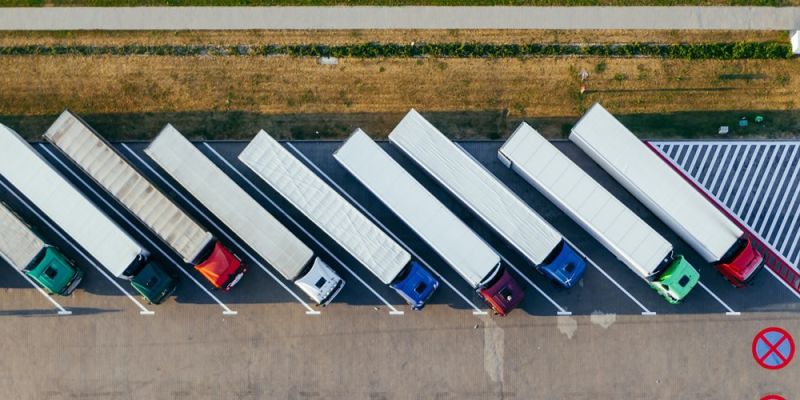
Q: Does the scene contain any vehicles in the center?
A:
Yes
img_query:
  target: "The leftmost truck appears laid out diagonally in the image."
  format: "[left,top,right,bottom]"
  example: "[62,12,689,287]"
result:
[0,189,88,296]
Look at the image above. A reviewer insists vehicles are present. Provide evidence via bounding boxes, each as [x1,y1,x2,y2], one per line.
[240,130,443,314]
[566,104,767,291]
[334,129,534,319]
[495,123,702,308]
[389,109,589,295]
[44,109,252,295]
[0,121,182,305]
[145,124,348,309]
[0,189,88,296]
